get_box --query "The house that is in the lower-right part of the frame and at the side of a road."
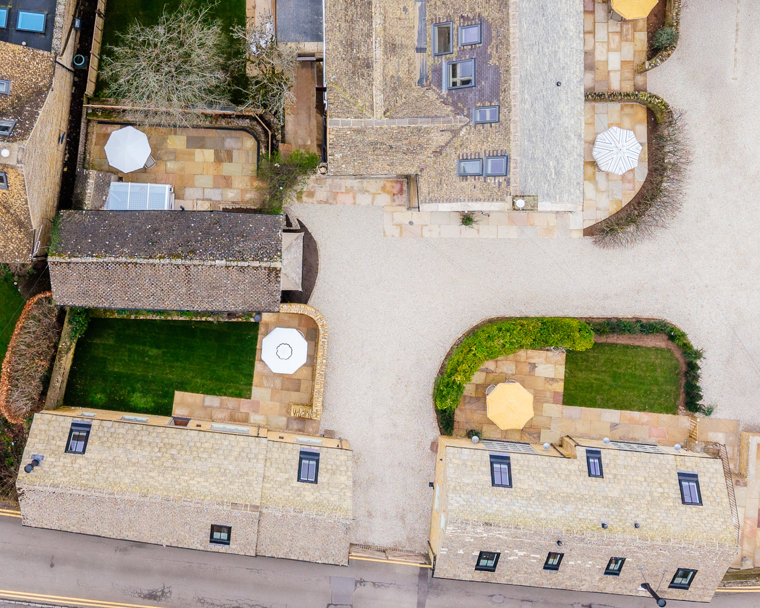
[428,434,738,608]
